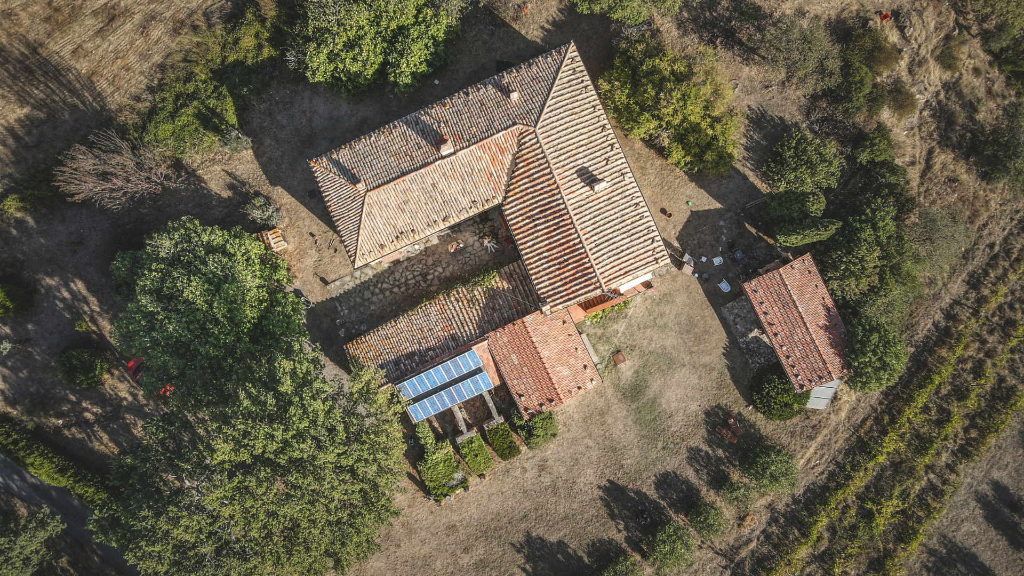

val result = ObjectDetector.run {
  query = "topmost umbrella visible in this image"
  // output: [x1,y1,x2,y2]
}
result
[483,234,499,256]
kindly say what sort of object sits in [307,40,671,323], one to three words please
house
